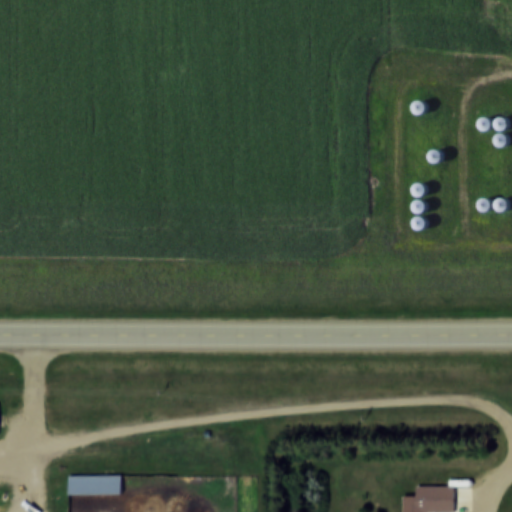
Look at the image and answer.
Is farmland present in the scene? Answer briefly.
Yes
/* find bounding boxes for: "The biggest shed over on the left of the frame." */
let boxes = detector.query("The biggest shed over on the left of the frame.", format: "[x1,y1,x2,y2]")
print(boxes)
[68,476,123,496]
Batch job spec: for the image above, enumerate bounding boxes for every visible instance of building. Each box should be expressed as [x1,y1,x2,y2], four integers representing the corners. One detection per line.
[68,476,123,496]
[403,487,455,512]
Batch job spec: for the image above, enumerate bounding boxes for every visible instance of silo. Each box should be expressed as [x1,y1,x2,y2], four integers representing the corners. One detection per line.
[493,116,512,132]
[493,197,512,212]
[410,182,430,198]
[410,216,430,231]
[410,198,430,214]
[476,116,495,132]
[410,100,430,116]
[427,148,446,164]
[492,132,512,148]
[476,197,494,212]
